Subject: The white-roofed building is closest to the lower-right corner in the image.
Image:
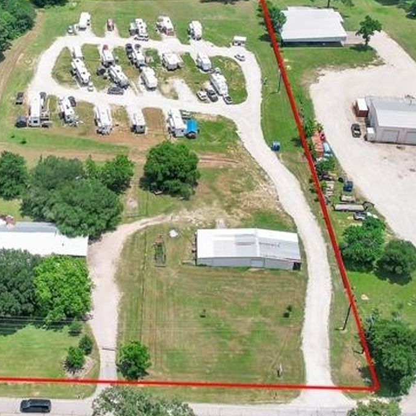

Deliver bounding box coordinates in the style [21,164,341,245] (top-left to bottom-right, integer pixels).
[194,227,305,270]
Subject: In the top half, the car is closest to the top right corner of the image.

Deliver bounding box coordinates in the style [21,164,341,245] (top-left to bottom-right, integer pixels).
[350,123,364,138]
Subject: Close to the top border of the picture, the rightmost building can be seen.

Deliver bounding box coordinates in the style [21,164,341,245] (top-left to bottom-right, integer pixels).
[270,9,350,47]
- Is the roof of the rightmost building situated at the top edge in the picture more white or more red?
white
